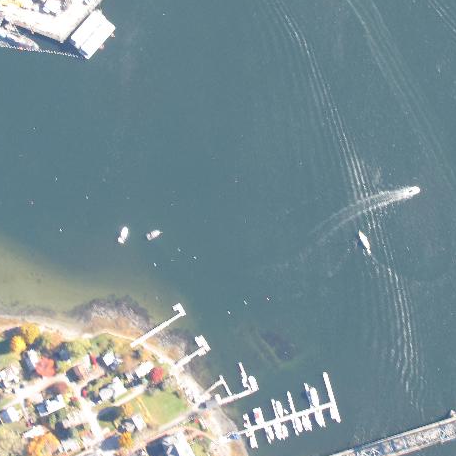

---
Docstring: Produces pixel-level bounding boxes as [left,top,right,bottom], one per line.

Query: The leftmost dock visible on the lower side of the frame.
[131,304,184,348]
